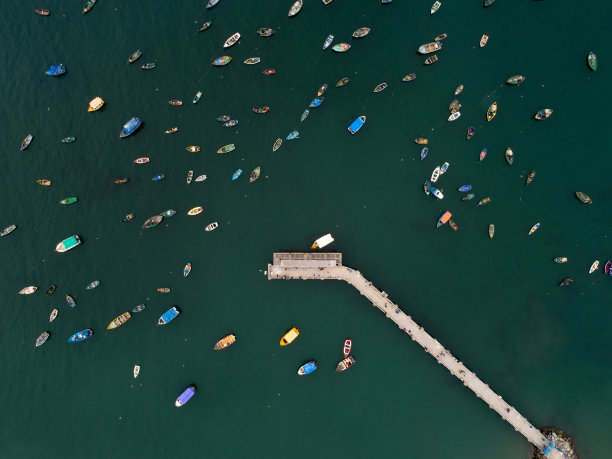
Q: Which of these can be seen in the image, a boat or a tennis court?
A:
boat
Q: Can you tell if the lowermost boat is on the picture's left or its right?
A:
left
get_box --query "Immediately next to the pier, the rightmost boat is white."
[312,232,335,249]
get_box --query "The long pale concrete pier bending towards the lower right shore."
[268,252,571,459]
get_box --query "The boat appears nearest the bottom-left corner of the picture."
[35,332,50,347]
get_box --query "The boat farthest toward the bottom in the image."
[175,384,197,407]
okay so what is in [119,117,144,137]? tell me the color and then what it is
blue boat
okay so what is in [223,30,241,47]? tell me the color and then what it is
white boat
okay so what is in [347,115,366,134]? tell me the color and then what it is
blue boat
